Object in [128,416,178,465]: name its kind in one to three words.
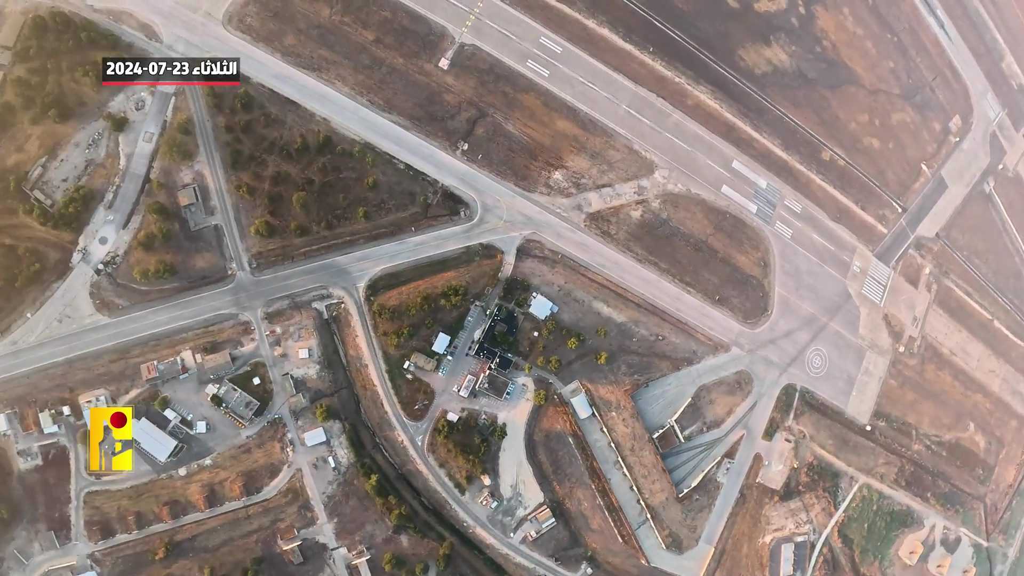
hangar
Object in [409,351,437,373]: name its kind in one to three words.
shed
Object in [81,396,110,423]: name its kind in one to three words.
building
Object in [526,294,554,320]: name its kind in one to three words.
building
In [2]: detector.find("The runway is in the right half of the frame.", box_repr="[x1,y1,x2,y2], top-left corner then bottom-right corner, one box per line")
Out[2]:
[404,0,860,281]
